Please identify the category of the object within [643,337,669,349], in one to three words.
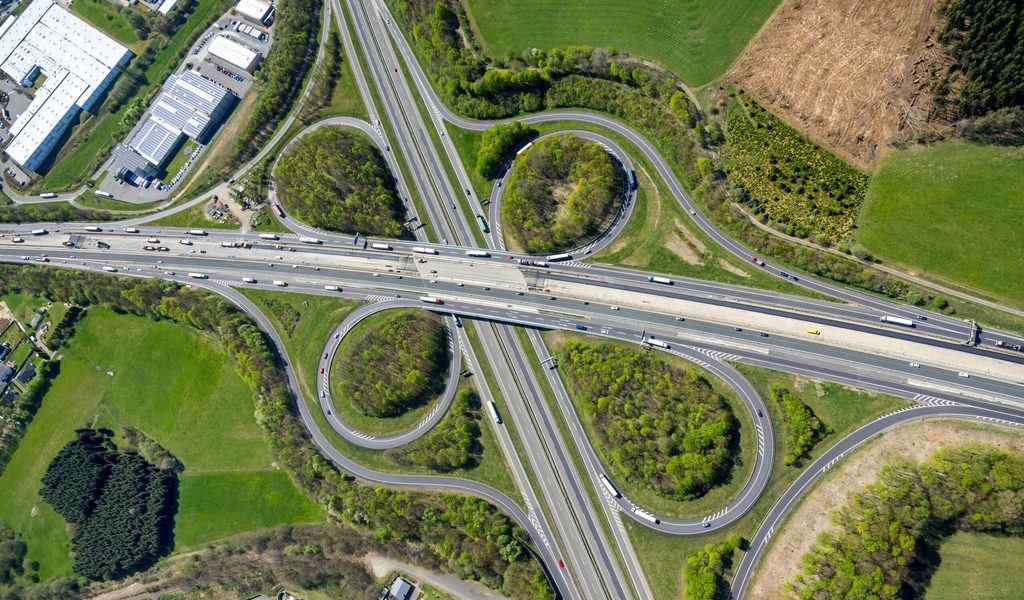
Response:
vehicle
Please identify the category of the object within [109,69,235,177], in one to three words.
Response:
building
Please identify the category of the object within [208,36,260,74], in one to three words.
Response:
building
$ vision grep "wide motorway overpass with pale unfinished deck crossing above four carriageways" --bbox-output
[412,242,551,334]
